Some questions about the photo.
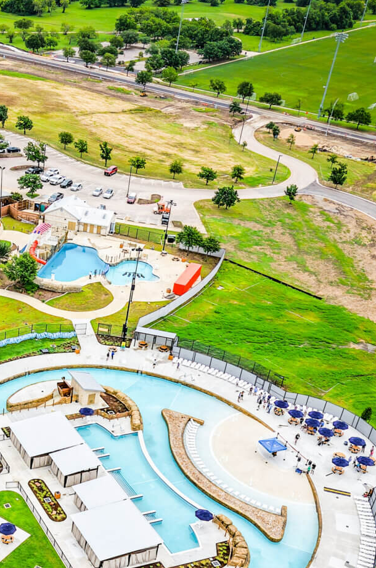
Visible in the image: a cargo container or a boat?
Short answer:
cargo container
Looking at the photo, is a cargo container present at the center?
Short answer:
Yes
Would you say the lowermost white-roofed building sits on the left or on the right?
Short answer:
left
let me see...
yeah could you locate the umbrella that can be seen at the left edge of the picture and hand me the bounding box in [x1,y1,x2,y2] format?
[0,523,15,537]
